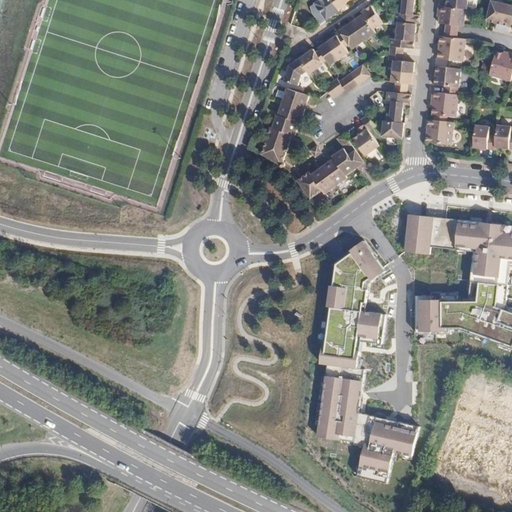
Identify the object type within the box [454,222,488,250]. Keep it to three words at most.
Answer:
building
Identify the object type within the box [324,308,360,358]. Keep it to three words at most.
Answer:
building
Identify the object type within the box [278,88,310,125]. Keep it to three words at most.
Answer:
house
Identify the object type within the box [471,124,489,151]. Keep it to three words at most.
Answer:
house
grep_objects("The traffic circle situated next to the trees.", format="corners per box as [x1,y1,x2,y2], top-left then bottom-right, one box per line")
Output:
[182,216,248,282]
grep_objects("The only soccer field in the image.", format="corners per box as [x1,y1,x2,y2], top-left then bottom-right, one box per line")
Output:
[0,0,228,212]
